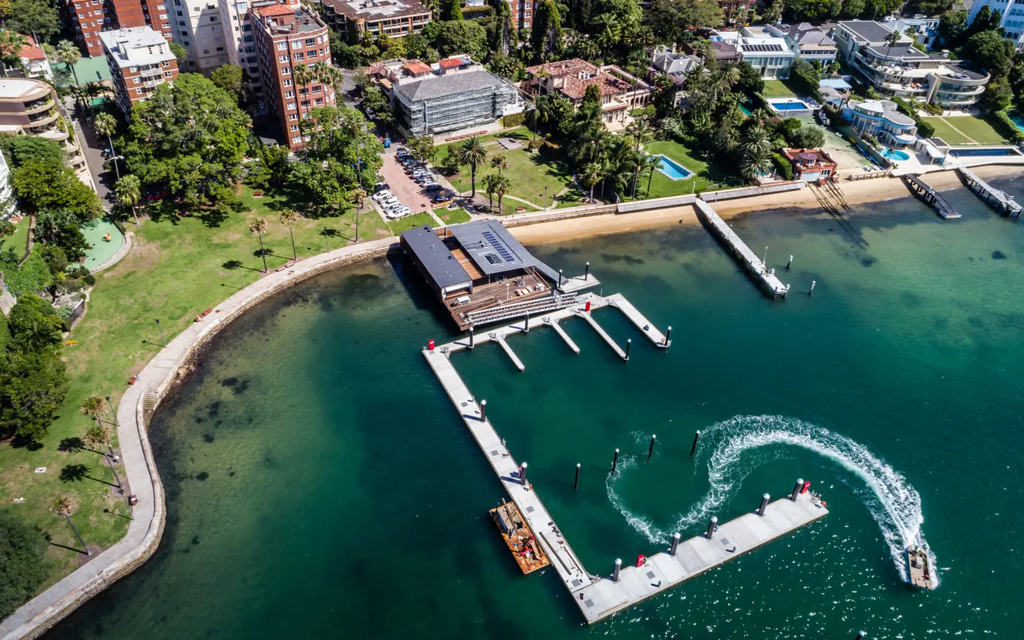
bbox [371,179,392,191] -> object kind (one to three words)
vehicle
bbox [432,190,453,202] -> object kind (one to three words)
vehicle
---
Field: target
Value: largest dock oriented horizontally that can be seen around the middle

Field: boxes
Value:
[434,293,629,375]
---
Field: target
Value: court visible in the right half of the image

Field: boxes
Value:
[801,121,874,175]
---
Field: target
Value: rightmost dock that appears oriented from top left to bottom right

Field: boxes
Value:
[958,167,1024,220]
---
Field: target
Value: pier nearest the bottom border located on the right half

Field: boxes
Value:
[572,492,828,626]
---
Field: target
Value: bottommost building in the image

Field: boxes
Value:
[400,220,552,331]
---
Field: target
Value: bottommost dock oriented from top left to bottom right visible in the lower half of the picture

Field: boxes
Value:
[421,348,597,598]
